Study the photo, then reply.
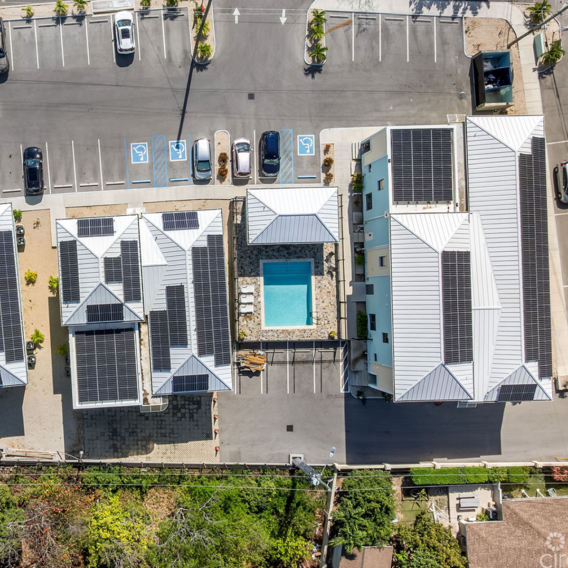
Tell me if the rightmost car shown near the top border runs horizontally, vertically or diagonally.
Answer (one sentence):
The rightmost car shown near the top border runs vertically in the image.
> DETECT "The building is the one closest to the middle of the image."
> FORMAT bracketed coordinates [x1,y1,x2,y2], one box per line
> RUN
[244,186,340,246]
